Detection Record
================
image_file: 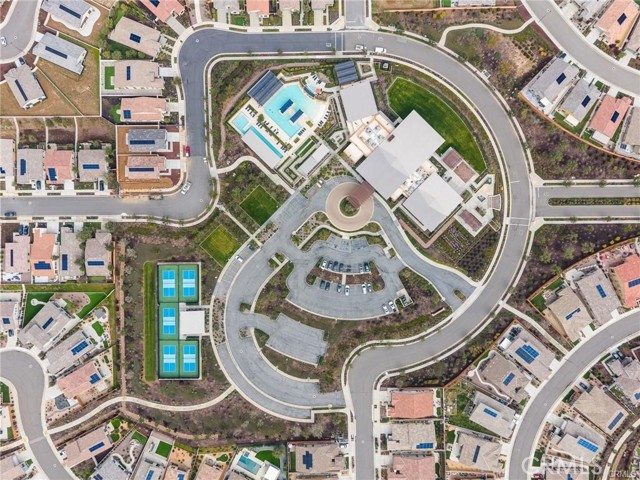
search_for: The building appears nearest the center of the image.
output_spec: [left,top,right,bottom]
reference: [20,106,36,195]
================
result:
[298,142,332,177]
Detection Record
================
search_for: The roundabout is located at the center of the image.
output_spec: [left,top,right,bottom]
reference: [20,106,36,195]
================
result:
[325,182,374,231]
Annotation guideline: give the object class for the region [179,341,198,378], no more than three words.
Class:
sports court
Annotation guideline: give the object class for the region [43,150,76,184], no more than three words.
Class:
house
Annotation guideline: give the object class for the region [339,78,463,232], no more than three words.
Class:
building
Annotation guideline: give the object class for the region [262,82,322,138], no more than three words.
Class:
swimming pool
